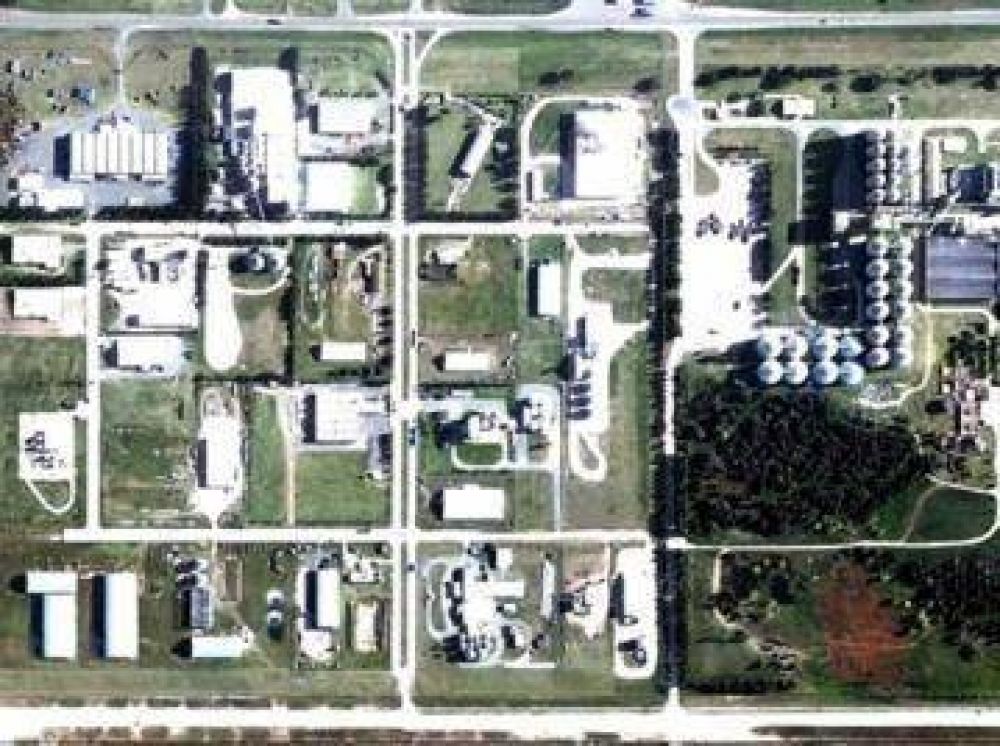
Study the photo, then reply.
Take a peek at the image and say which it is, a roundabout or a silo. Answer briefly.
silo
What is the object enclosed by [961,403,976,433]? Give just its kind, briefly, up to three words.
house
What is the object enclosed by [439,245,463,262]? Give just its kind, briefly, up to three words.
shed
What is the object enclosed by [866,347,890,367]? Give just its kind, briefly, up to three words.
silo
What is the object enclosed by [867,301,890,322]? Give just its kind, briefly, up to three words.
silo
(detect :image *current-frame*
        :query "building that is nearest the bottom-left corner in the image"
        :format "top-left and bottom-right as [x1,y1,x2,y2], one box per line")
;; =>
[43,593,77,658]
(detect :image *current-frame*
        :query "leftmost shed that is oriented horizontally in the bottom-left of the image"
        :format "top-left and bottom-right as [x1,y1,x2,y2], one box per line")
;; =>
[25,573,77,593]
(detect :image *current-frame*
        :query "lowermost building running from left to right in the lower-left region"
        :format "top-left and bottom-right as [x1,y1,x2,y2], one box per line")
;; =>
[190,637,243,658]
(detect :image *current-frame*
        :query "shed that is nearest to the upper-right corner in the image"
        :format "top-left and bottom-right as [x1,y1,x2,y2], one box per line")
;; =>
[944,137,968,150]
